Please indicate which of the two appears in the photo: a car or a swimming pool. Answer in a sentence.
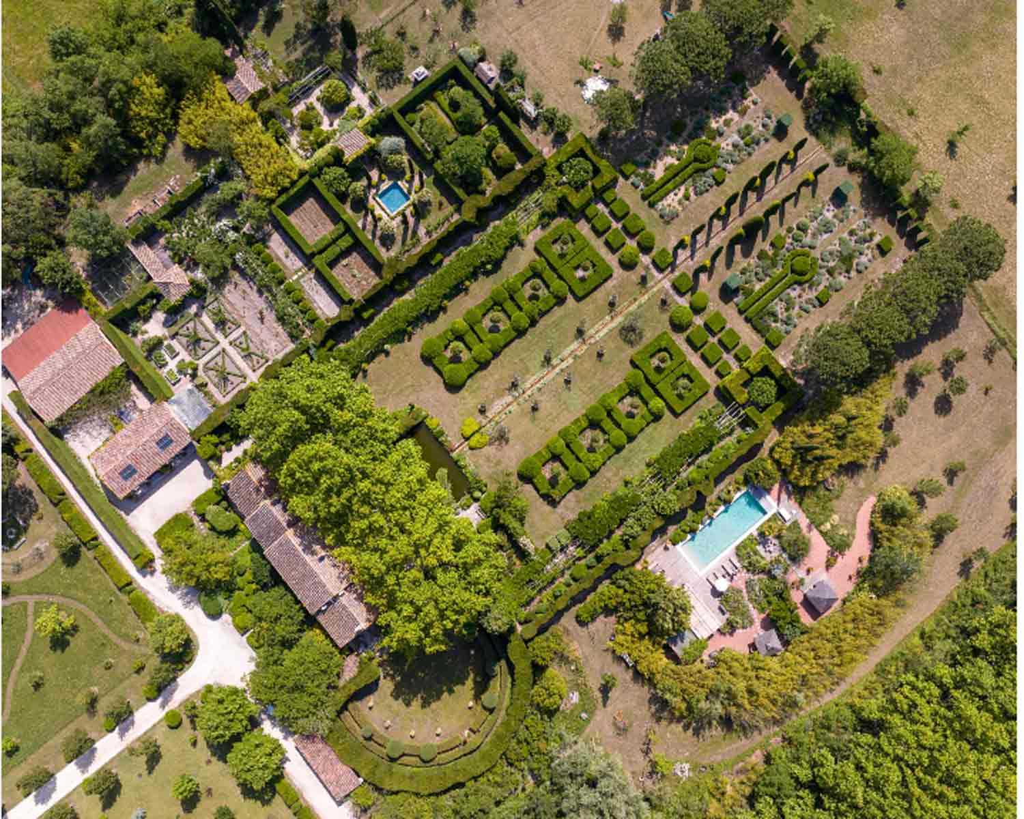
It is a swimming pool that can be seen here.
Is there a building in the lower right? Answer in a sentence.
Yes, I can see a building in the lower right.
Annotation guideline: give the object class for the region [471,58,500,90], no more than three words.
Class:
shed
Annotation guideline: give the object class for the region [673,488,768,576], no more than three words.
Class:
swimming pool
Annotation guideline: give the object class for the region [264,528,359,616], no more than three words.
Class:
house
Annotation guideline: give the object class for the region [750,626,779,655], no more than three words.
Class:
building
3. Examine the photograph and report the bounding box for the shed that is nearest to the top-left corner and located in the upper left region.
[228,61,267,108]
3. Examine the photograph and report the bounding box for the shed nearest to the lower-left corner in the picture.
[295,730,362,803]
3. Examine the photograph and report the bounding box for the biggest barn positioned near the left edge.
[1,300,125,421]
